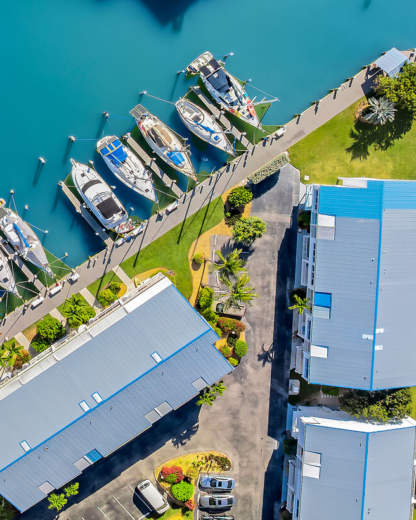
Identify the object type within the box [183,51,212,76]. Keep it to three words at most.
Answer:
boat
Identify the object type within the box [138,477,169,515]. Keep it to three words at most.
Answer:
vehicle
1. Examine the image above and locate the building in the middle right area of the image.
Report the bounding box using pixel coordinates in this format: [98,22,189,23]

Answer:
[288,178,416,392]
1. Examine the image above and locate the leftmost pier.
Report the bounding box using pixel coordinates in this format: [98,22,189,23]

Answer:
[0,233,48,291]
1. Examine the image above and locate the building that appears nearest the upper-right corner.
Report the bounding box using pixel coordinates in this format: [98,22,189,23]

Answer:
[367,47,410,81]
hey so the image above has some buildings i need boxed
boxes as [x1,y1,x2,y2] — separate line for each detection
[367,47,410,81]
[288,178,416,392]
[0,275,234,513]
[281,398,416,520]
